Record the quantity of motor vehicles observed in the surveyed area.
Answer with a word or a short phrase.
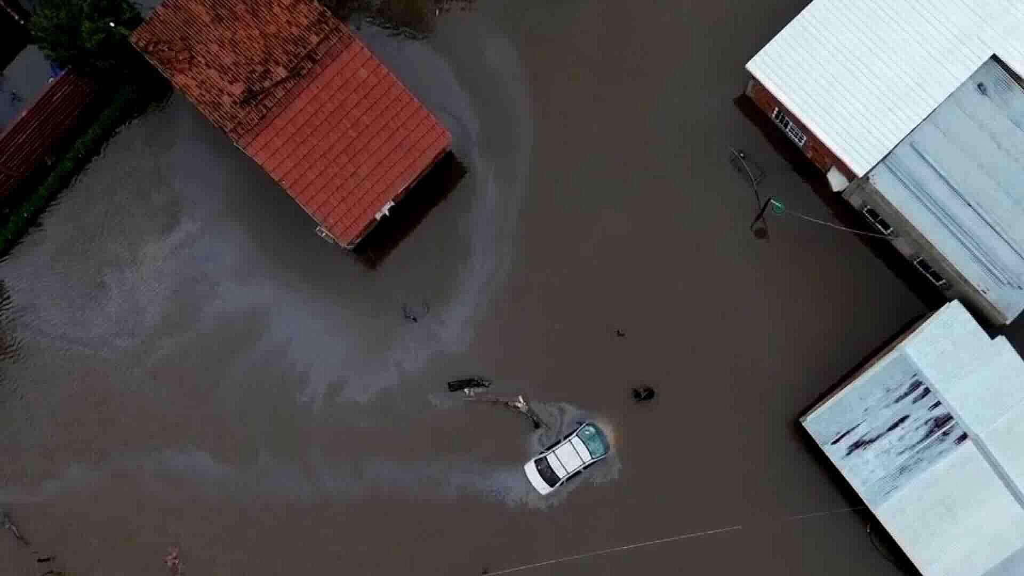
1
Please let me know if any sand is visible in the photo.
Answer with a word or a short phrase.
No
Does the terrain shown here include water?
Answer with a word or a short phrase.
Yes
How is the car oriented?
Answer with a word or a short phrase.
diagonally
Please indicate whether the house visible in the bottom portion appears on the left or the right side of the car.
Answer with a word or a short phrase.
right of it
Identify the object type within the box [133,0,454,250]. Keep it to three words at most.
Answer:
house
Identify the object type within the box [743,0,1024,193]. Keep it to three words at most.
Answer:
house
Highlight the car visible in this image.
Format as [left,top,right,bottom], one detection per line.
[524,419,611,494]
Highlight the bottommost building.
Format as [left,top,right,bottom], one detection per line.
[799,298,1024,576]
